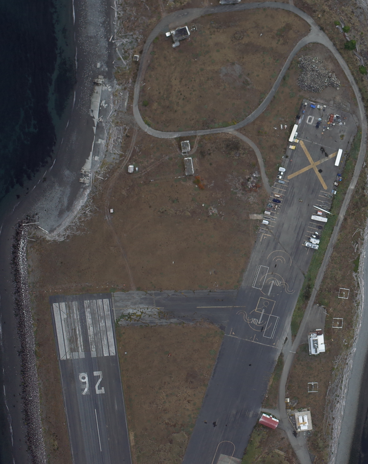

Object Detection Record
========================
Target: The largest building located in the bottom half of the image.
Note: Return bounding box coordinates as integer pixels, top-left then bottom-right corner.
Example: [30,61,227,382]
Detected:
[308,329,326,354]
